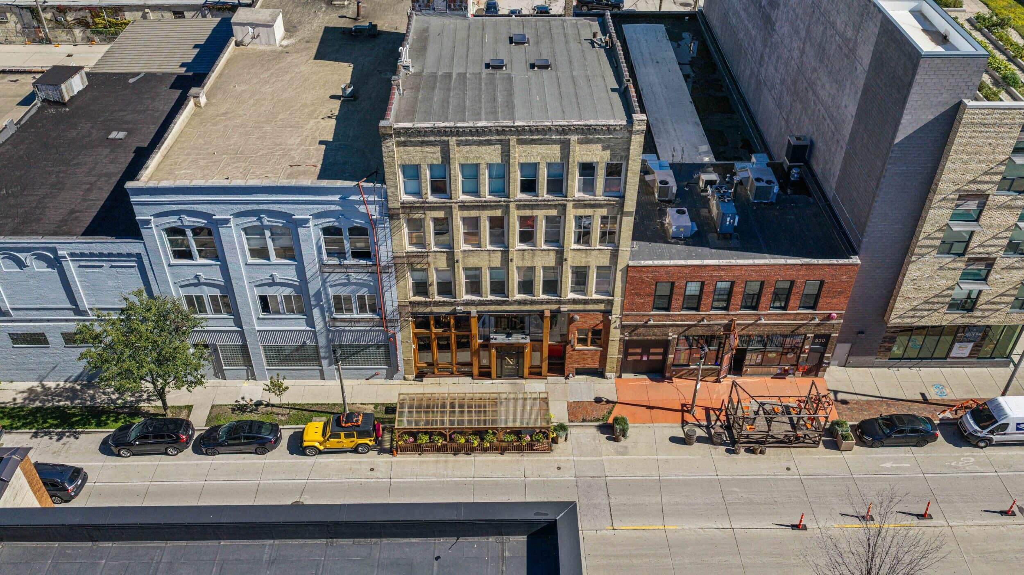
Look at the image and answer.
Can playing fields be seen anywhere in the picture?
No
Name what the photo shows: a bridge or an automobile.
automobile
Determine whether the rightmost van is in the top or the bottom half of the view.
bottom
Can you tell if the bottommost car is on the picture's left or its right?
left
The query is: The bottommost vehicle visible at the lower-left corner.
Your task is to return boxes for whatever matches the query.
[27,464,91,507]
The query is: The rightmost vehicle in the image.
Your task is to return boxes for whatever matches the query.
[953,394,1024,449]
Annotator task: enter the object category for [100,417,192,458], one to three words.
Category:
car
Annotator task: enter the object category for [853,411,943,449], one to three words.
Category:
car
